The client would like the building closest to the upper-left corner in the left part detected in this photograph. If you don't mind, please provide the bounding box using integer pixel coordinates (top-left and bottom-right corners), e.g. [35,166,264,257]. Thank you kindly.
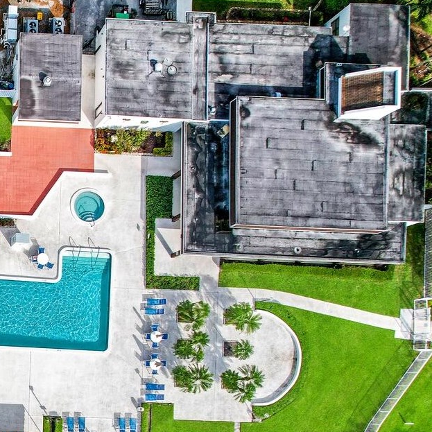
[13,34,82,131]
